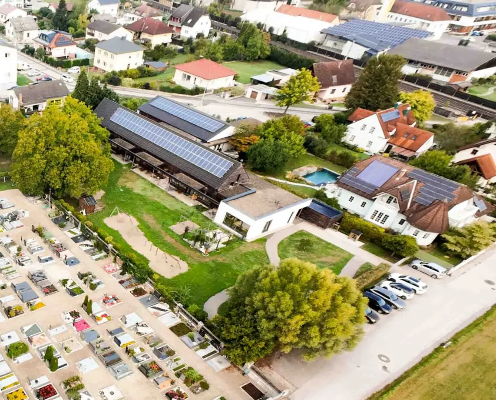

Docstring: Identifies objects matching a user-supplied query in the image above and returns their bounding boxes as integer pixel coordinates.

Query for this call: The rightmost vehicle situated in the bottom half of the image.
[411,260,450,278]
